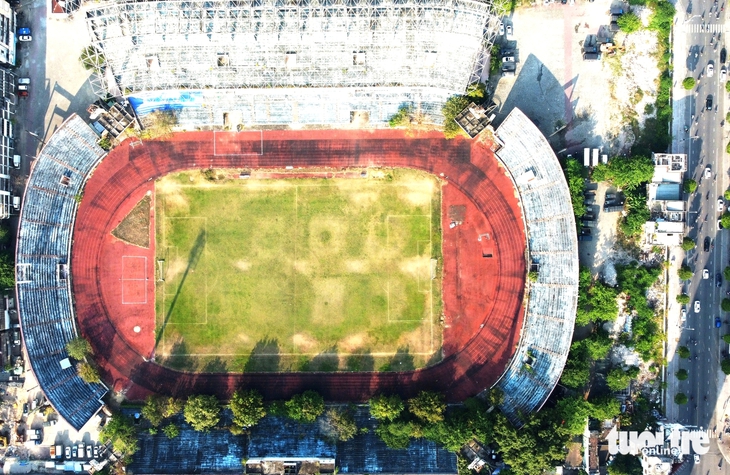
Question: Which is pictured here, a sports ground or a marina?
sports ground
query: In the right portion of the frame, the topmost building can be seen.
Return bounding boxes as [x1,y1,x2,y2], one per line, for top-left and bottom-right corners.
[452,100,497,143]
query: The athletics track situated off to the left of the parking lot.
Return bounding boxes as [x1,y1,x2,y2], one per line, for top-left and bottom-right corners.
[75,131,526,401]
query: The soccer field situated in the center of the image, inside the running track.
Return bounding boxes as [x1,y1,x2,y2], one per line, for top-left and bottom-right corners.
[155,171,442,371]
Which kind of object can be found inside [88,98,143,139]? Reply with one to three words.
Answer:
building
